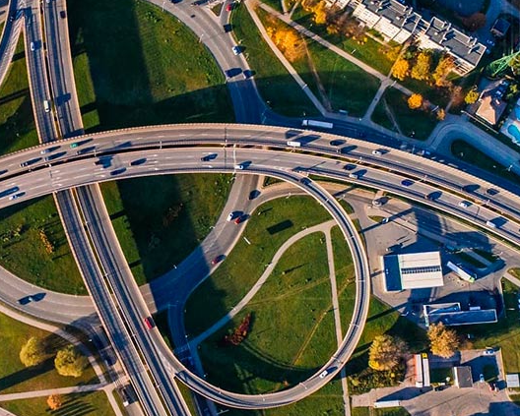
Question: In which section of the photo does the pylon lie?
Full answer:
The pylon is located in the top right region of the scene.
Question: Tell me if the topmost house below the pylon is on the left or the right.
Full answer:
The topmost house below the pylon sits on the right side.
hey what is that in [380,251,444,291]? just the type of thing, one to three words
building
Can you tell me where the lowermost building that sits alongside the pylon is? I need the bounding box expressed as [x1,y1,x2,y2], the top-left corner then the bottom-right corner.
[469,92,499,125]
